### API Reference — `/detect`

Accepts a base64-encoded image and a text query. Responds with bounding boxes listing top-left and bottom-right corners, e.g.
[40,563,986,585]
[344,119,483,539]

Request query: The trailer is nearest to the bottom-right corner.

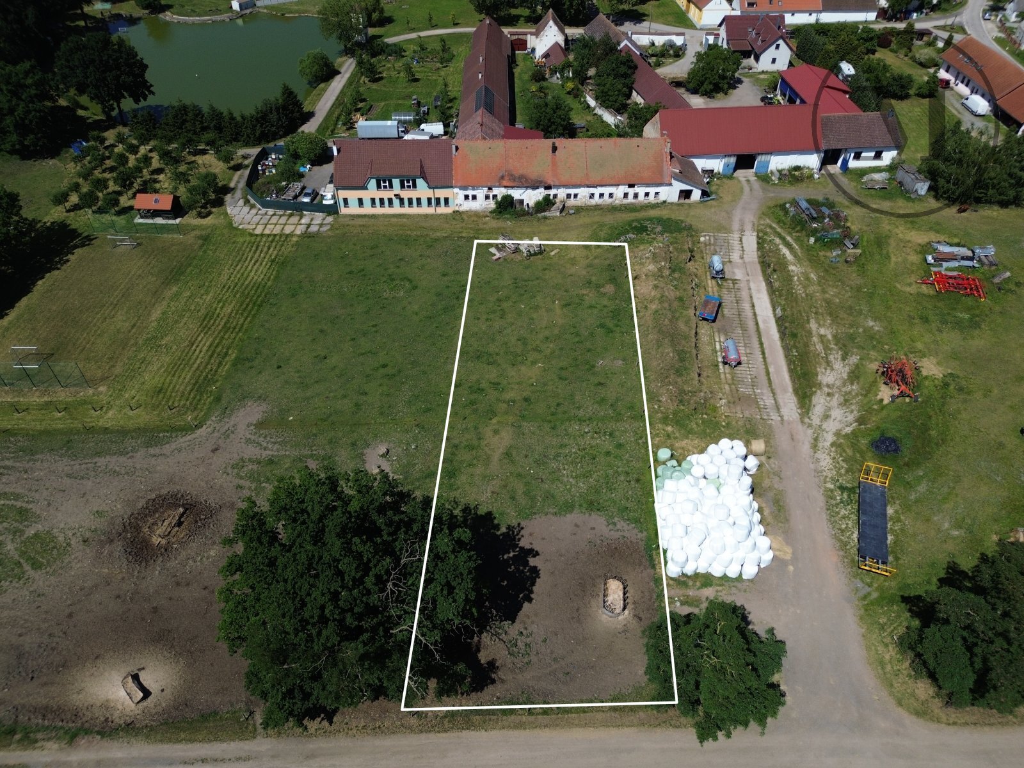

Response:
[856,468,896,575]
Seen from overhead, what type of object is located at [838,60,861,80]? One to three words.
camper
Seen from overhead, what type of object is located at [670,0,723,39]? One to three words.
house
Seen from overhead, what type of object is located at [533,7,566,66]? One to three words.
house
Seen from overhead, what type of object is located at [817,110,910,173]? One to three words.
shed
